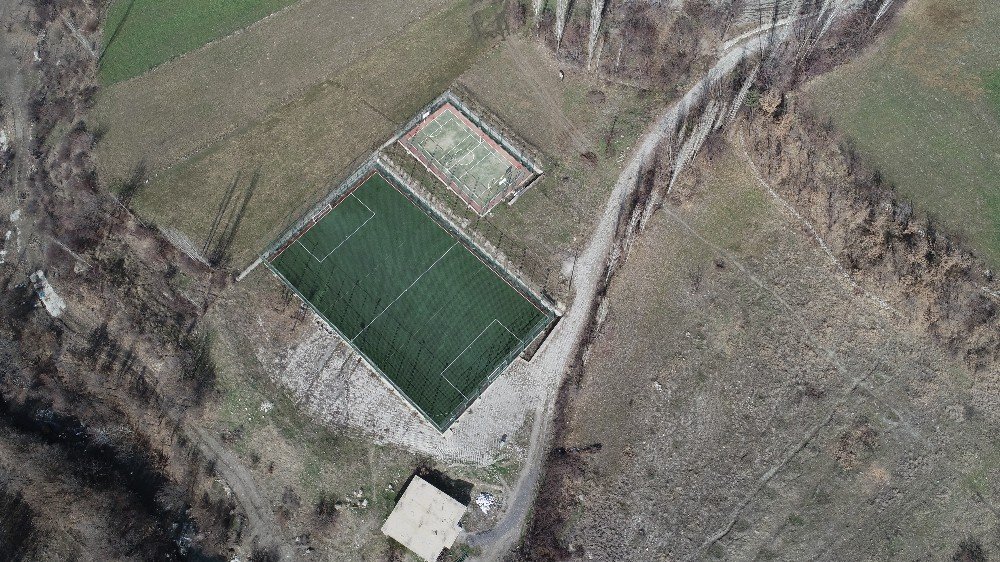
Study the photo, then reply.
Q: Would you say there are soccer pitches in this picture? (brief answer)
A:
Yes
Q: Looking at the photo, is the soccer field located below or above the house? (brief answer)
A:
above it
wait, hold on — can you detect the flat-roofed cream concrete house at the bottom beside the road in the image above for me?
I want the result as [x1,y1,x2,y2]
[383,476,467,562]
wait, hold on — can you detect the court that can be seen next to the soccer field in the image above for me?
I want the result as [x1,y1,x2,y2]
[398,102,533,217]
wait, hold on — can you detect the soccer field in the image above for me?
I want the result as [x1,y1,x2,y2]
[268,167,556,434]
